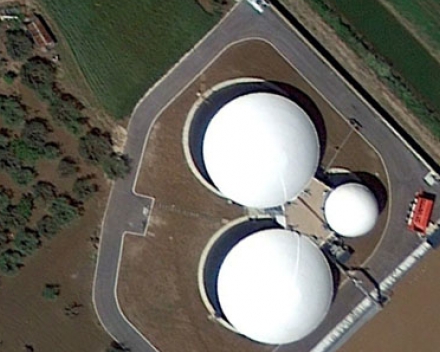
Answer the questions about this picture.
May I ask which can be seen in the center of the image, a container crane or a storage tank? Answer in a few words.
storage tank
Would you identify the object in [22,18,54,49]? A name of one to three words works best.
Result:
shed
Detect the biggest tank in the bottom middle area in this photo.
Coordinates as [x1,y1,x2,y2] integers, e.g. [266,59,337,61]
[196,213,334,344]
